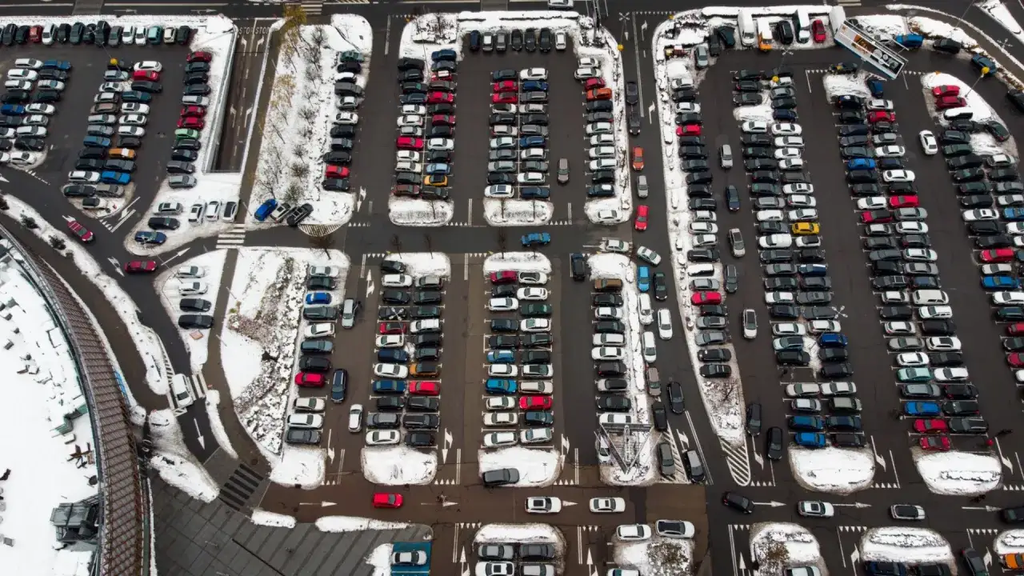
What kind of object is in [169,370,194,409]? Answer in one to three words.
vehicle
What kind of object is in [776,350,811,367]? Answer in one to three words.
car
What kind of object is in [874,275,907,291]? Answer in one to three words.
car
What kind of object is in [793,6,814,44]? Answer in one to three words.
truck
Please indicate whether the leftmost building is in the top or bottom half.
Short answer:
bottom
